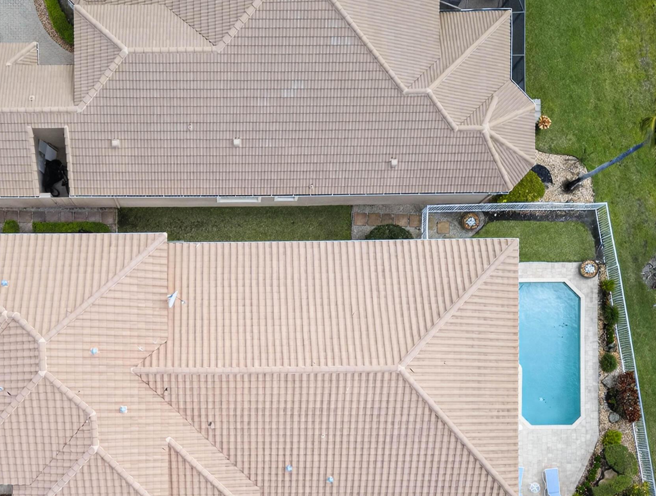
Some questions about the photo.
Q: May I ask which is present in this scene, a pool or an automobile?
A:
pool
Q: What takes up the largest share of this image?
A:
buildings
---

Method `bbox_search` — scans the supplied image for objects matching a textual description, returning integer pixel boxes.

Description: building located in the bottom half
[0,230,522,496]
